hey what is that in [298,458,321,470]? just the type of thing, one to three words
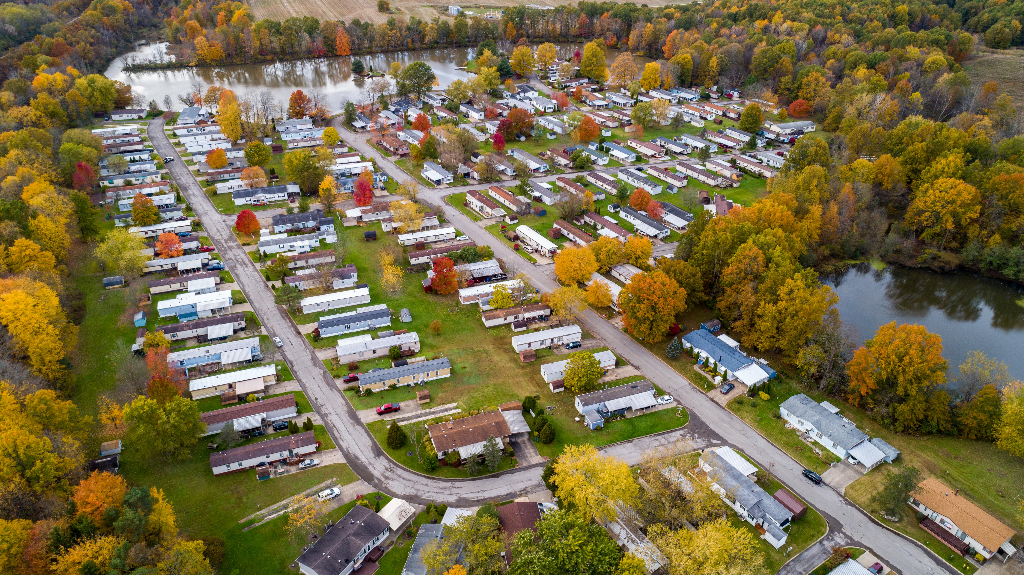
vehicle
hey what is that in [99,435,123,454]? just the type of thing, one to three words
shed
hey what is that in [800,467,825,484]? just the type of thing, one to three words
car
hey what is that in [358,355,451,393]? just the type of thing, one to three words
house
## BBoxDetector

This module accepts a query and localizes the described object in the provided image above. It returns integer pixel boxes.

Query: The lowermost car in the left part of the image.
[316,487,340,502]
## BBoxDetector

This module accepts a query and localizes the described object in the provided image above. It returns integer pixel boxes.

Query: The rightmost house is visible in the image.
[910,477,1018,569]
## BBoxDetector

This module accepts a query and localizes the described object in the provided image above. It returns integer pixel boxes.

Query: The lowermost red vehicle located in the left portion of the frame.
[376,404,401,416]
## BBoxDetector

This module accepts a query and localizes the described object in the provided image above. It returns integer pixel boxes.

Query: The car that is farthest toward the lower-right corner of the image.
[868,561,891,574]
